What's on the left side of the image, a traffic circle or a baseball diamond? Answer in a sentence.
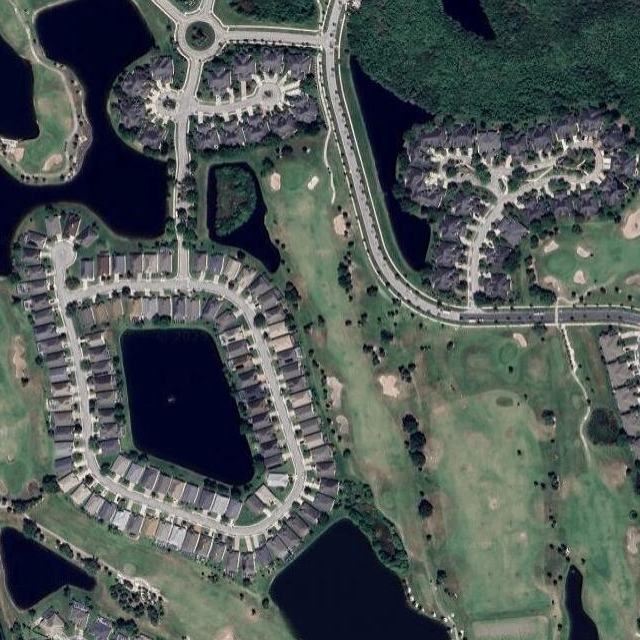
The feature located on the left side of the image is a traffic circle.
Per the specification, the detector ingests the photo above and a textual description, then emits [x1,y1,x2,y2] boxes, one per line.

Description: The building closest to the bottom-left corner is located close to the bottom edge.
[39,611,65,638]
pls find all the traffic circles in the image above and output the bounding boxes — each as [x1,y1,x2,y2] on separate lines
[175,11,225,61]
